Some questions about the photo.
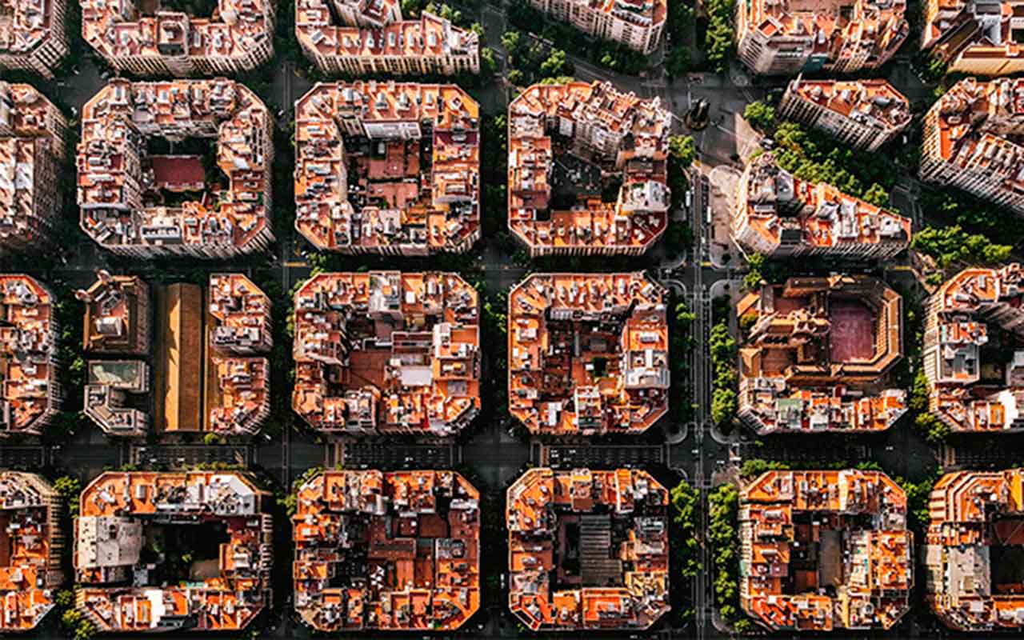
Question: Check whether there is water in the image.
No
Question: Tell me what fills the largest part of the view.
buildings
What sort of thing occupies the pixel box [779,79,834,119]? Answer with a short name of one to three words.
building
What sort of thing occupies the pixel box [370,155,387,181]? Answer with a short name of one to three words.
shed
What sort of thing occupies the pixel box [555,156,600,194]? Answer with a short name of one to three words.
shed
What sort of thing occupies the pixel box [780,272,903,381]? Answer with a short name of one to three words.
building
